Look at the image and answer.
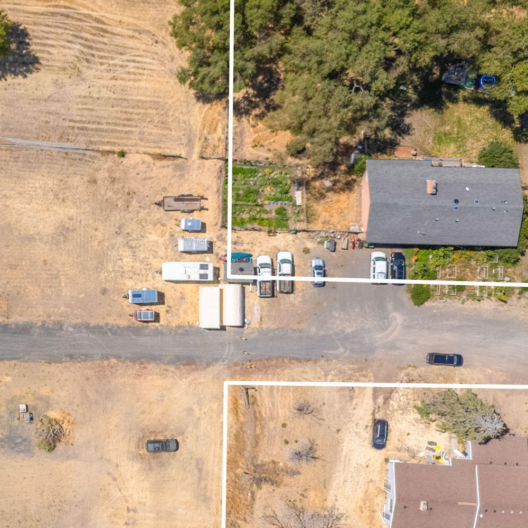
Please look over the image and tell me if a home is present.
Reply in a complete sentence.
Yes, there is a home in the image.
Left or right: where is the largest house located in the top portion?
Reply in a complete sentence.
You can find the largest house located in the top portion on the right side of the picture.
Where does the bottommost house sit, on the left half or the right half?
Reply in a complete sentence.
The bottommost house is on the right side of the image.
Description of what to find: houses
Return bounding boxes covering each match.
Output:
[361,159,524,247]
[376,435,528,528]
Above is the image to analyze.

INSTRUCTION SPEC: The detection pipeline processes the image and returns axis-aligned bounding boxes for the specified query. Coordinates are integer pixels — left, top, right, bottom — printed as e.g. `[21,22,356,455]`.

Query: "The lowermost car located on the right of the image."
[371,418,389,450]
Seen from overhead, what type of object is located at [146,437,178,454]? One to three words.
car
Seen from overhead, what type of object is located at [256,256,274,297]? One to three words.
vehicle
